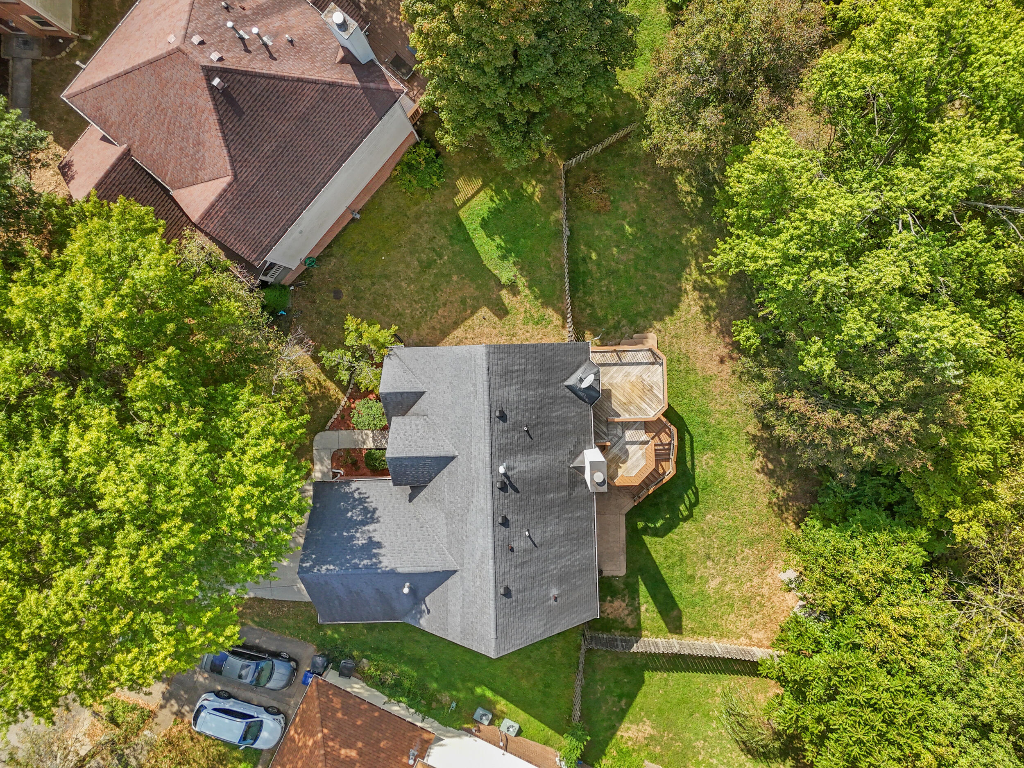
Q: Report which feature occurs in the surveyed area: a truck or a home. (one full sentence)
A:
There is a home in the scene.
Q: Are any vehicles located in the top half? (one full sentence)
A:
No, no vehicle appears in the top half.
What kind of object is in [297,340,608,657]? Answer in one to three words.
house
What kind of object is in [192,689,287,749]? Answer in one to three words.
car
